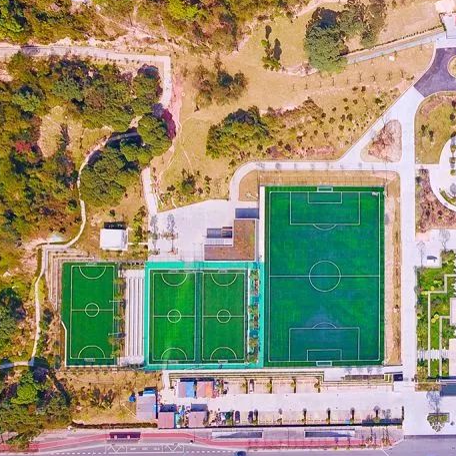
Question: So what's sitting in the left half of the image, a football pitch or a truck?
football pitch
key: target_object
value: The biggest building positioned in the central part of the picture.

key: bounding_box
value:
[204,220,257,261]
